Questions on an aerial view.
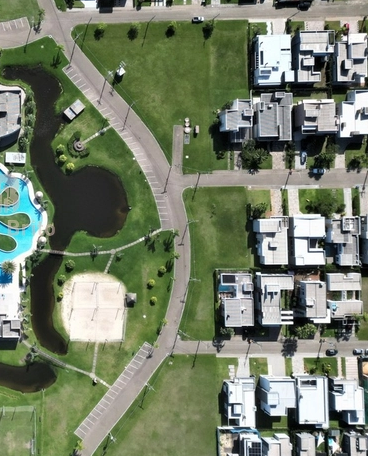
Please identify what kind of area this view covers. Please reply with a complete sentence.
This looks like a residential area.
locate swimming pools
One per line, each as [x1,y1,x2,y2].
[219,283,232,292]
[0,169,44,283]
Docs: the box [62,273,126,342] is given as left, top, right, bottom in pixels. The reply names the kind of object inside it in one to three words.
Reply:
sports court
